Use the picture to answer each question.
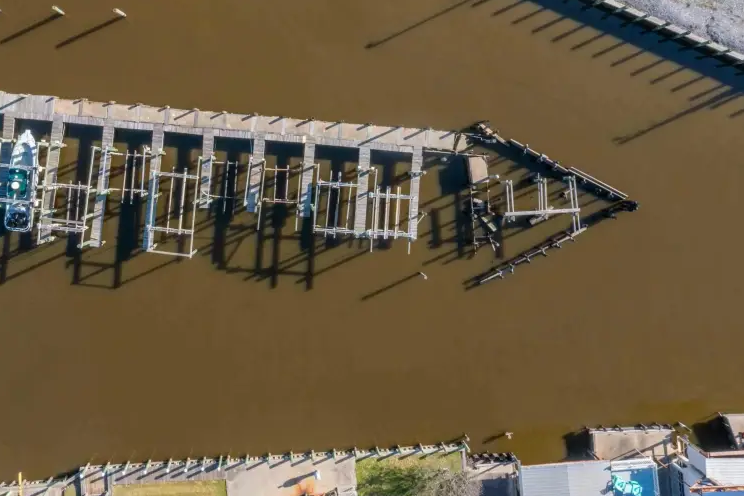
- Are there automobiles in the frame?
No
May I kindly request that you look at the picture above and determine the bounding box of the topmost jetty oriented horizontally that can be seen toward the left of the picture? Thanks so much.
[0,90,455,252]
